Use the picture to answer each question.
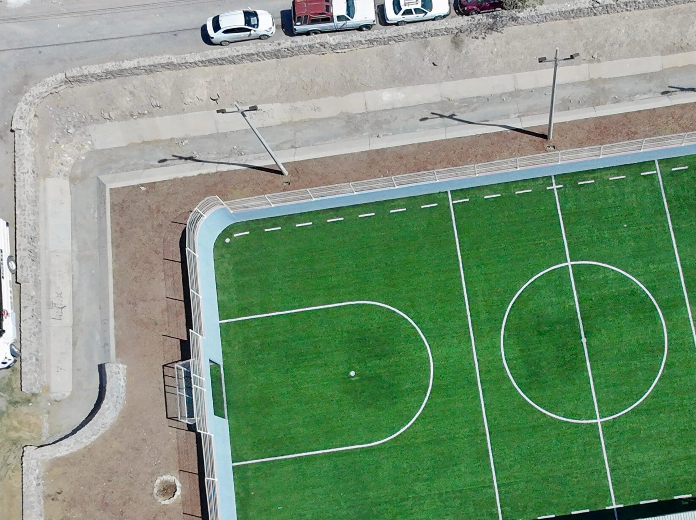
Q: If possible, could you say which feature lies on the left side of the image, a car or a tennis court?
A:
car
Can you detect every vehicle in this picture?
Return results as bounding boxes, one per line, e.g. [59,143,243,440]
[0,217,19,376]
[384,0,452,23]
[461,0,529,15]
[205,4,276,47]
[293,0,384,36]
